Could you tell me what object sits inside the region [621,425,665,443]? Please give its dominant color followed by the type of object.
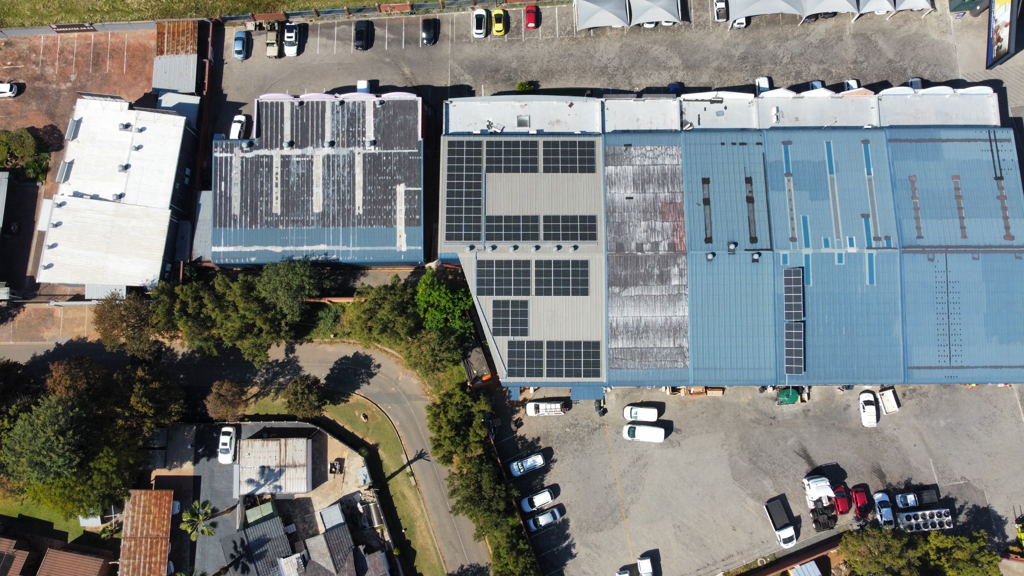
white vehicle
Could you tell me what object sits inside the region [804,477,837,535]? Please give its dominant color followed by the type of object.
white truck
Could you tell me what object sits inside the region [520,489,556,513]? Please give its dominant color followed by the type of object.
white car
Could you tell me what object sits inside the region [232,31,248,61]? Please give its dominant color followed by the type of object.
blue car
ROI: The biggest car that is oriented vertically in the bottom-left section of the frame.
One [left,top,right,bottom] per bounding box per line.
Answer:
[217,426,238,463]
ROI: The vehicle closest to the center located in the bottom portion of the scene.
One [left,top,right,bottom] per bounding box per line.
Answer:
[525,401,565,418]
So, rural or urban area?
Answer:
urban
